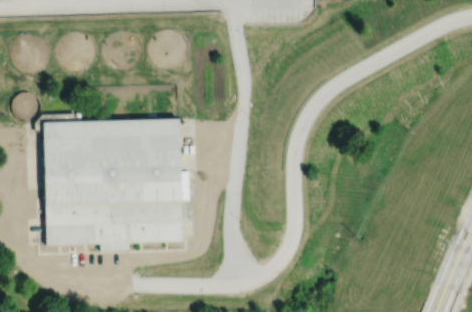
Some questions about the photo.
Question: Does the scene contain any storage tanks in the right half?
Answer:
No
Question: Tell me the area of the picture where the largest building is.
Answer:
left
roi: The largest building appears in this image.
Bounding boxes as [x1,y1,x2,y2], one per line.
[44,117,183,252]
